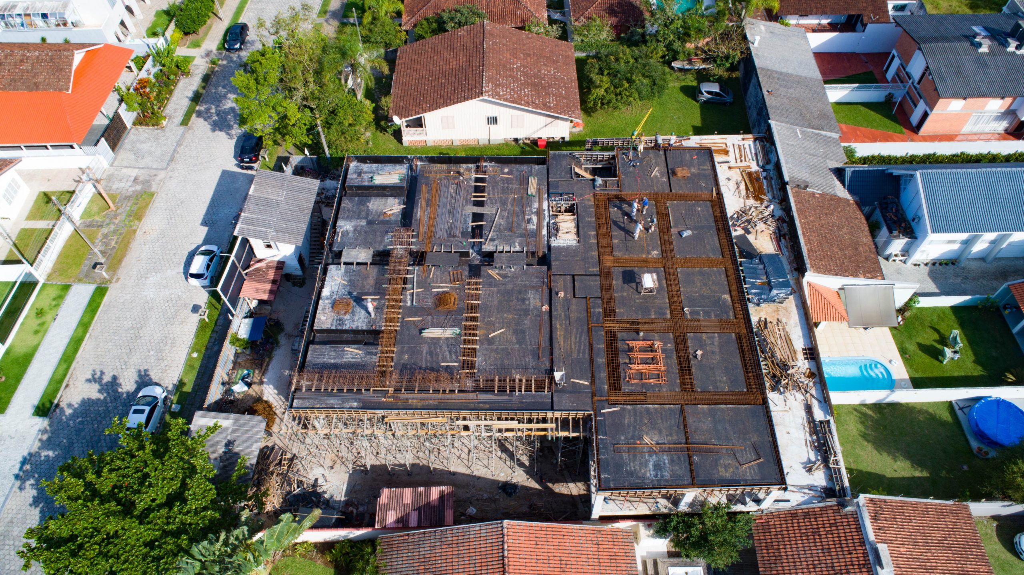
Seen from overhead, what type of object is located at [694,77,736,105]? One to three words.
car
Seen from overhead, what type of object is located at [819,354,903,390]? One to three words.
swimming pool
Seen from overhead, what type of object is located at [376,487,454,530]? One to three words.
shed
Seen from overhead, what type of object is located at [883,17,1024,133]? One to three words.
house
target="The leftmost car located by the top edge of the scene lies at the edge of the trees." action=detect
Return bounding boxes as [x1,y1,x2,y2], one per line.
[220,18,250,50]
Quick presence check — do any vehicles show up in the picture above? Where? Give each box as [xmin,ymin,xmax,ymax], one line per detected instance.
[115,382,168,450]
[232,125,267,166]
[694,77,736,105]
[220,18,250,50]
[180,238,223,287]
